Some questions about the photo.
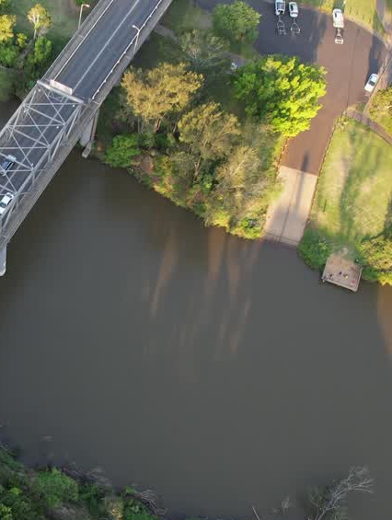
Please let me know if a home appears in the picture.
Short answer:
No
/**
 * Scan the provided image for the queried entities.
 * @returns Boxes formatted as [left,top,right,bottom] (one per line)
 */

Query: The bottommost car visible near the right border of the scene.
[362,74,378,93]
